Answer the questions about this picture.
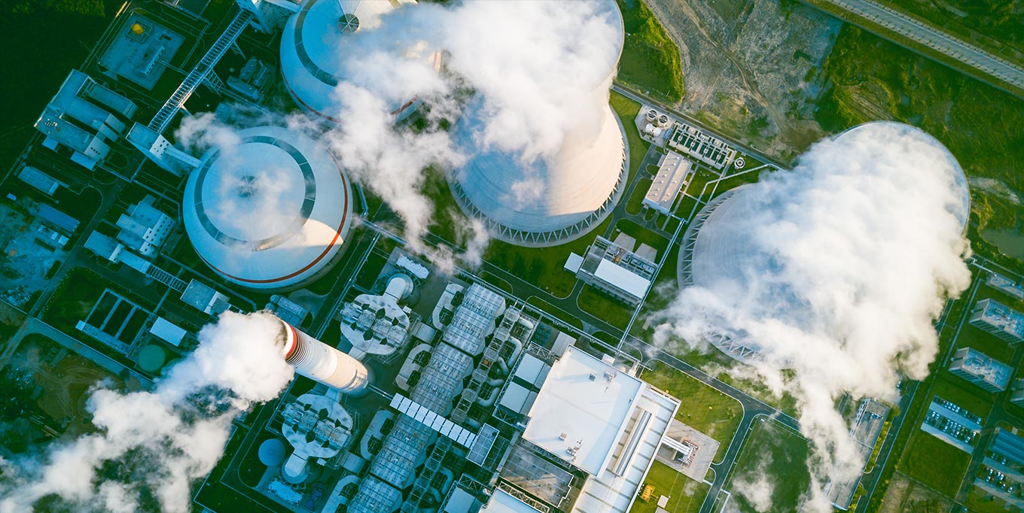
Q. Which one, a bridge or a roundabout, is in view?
bridge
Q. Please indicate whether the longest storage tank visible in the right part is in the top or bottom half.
top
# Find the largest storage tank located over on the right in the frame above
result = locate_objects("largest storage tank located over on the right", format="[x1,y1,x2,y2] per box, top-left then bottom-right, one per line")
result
[667,118,737,173]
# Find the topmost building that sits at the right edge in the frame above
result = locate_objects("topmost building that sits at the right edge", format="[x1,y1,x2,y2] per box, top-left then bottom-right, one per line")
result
[977,274,1024,309]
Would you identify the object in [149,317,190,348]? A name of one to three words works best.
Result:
shed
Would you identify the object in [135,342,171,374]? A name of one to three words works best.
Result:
storage tank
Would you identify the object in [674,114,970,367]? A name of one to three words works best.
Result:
cooling tower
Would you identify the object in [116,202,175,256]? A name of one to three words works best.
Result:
house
